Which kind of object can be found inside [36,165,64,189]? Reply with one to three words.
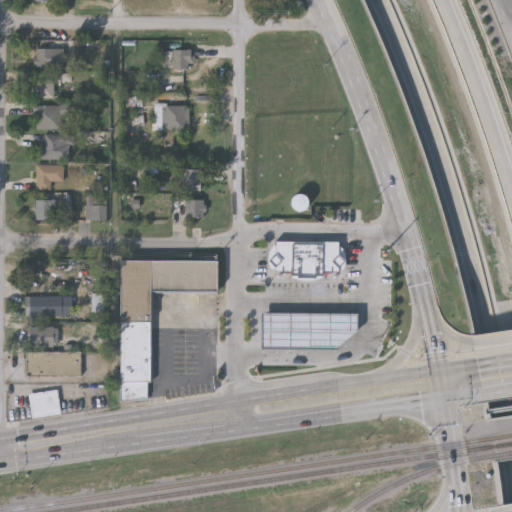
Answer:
house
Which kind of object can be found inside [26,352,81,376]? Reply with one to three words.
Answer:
building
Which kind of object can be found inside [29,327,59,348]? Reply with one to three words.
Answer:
house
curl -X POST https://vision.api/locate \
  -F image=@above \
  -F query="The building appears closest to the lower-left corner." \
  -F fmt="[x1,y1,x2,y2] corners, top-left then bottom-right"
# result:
[28,390,62,418]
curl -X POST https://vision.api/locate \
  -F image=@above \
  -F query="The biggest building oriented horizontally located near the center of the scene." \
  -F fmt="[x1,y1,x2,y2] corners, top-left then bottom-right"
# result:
[268,242,348,281]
